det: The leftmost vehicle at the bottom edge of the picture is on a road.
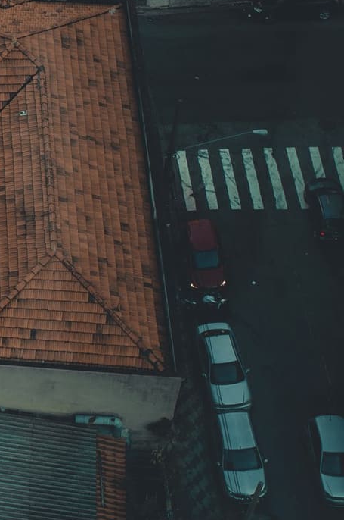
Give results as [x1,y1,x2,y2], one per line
[210,412,272,505]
